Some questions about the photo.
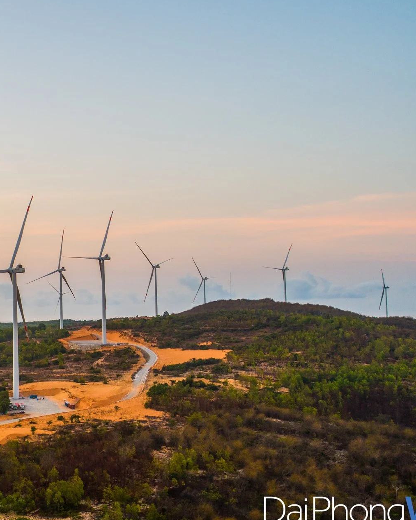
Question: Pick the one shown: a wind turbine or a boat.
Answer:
wind turbine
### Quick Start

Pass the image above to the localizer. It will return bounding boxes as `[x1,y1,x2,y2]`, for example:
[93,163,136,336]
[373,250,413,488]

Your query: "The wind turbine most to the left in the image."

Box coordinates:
[0,198,31,400]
